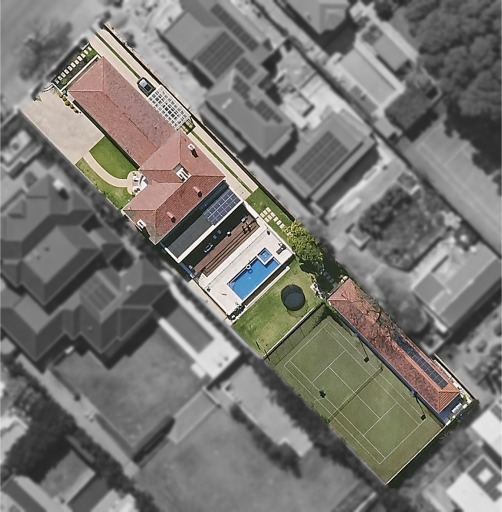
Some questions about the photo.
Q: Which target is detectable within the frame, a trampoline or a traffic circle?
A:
trampoline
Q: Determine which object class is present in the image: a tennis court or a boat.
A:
tennis court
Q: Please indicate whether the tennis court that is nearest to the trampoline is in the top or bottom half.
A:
bottom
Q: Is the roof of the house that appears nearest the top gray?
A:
Yes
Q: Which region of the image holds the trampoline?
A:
center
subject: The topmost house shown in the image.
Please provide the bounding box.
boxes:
[287,0,351,36]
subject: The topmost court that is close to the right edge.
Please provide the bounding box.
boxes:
[407,124,502,249]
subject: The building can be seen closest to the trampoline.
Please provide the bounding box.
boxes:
[326,278,460,415]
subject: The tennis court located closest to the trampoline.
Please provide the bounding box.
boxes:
[266,304,446,483]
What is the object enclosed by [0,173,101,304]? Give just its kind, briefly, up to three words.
house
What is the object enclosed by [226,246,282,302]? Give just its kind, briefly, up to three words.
swimming pool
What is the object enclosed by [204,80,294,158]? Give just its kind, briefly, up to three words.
house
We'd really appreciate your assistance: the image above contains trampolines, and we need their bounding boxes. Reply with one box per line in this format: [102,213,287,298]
[282,287,306,311]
